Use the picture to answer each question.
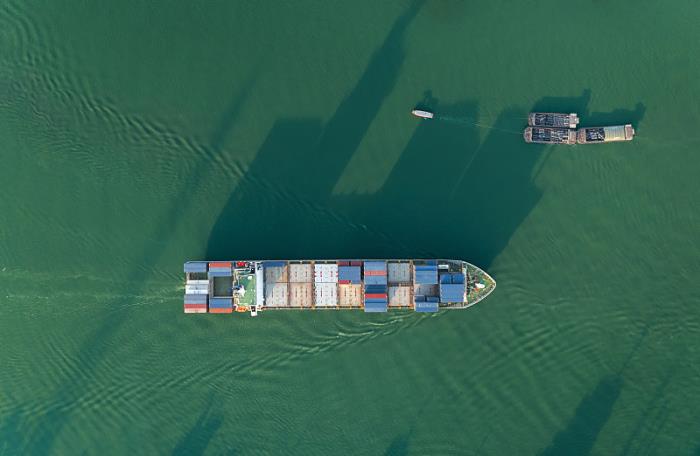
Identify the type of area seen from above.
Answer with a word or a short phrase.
port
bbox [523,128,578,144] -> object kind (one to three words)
ship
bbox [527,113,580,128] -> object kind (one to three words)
ship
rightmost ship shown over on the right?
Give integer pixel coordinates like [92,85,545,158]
[578,125,635,145]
